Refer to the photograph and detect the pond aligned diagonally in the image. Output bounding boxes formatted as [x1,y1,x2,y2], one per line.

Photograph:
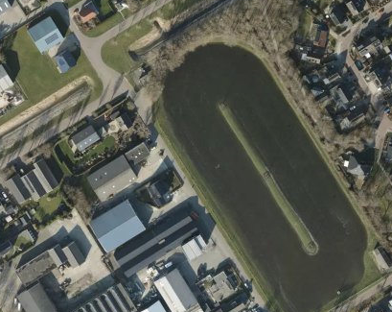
[165,47,364,312]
